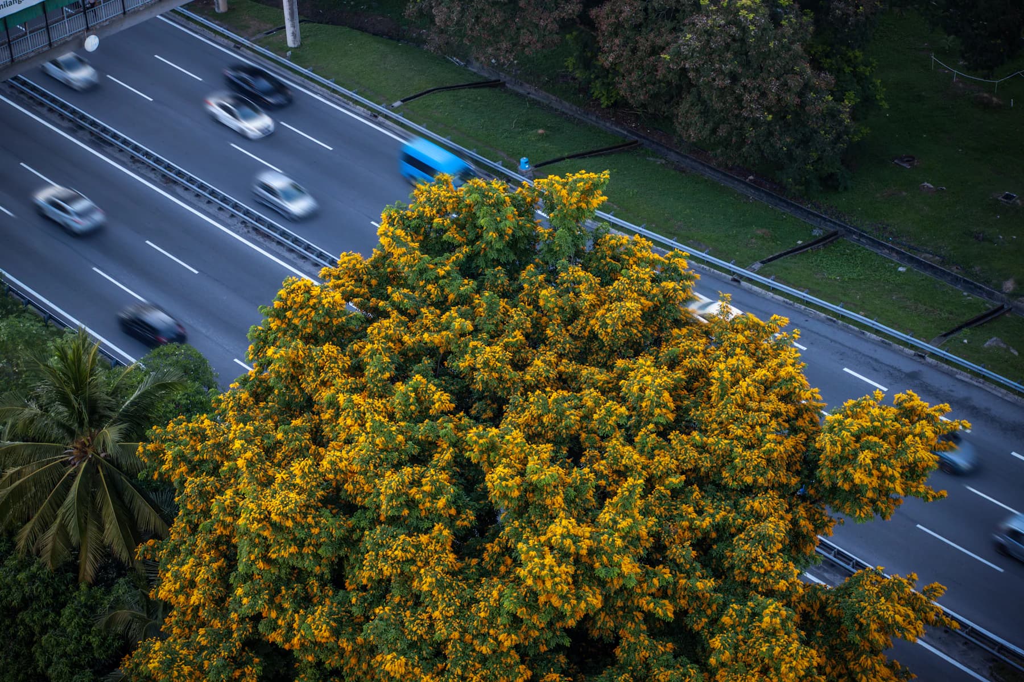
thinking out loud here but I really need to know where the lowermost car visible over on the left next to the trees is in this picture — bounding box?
[113,301,190,354]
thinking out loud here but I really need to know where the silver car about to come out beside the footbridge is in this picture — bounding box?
[42,53,98,94]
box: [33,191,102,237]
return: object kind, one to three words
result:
car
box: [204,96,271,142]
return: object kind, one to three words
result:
car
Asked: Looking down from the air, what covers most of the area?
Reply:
trees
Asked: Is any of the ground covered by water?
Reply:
No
